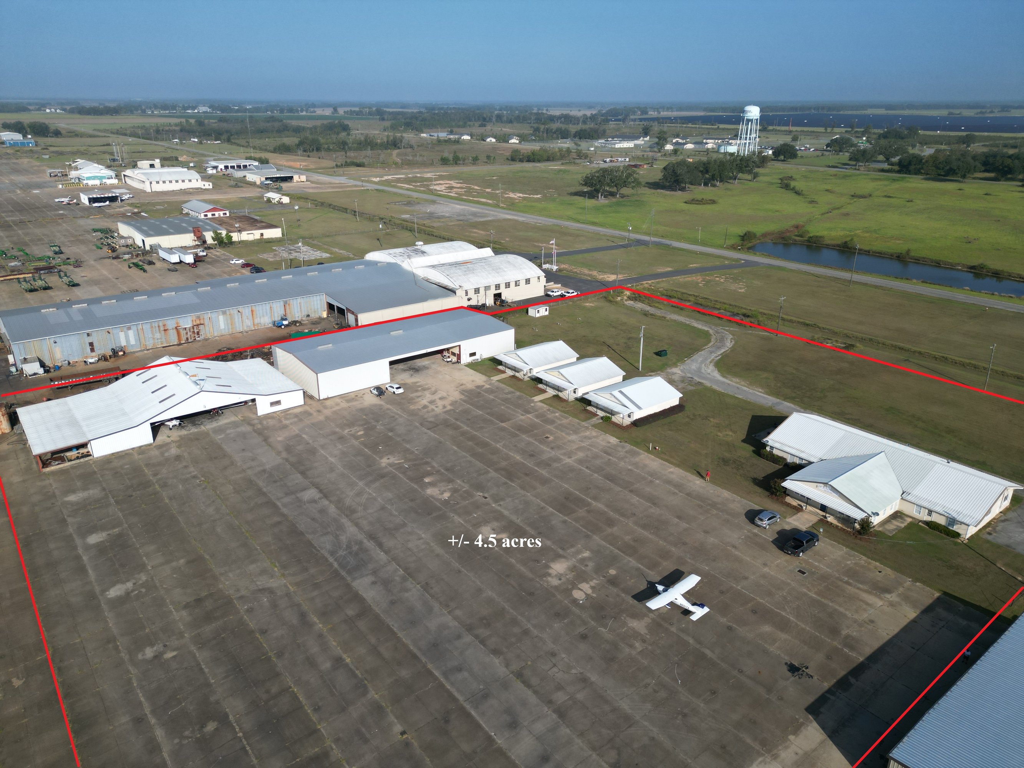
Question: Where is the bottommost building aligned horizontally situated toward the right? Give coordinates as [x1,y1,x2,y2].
[761,411,1024,538]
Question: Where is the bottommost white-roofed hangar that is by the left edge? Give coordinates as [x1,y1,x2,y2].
[17,356,304,472]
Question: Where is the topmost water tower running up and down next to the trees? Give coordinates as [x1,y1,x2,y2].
[736,106,759,156]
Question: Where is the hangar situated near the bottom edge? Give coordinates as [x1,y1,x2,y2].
[887,611,1024,768]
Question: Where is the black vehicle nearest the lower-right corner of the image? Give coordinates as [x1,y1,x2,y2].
[786,534,818,555]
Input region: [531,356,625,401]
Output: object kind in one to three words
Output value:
house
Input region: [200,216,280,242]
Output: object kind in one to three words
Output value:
building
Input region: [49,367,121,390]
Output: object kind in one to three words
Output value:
trailer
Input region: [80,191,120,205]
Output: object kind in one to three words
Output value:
hangar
